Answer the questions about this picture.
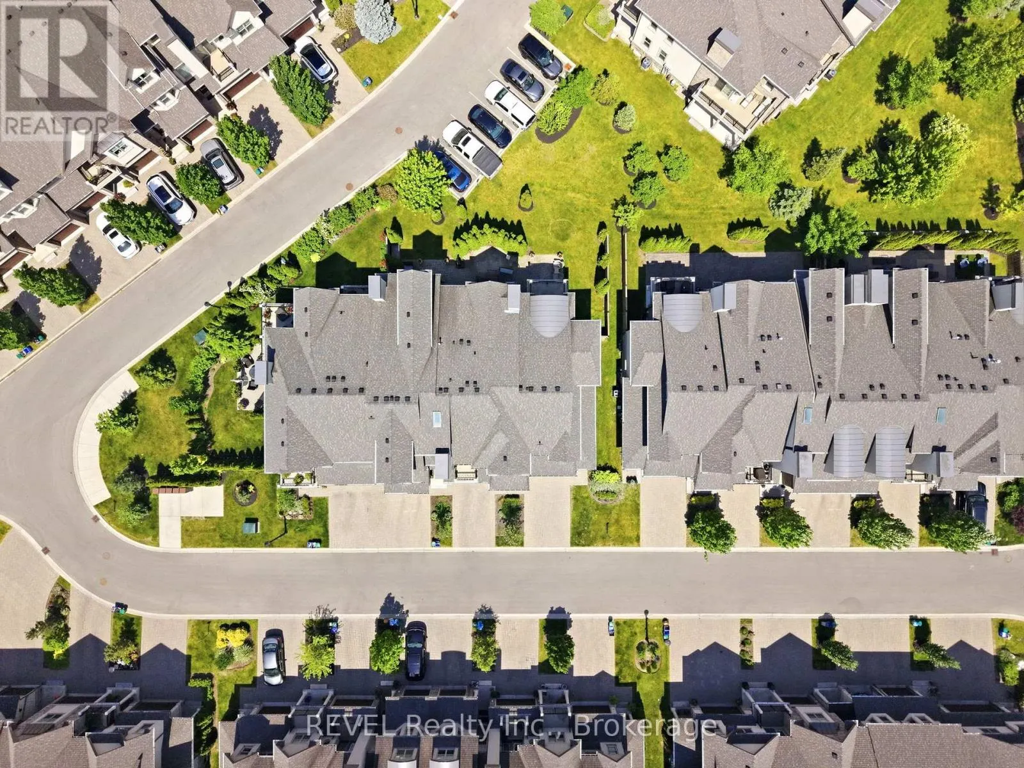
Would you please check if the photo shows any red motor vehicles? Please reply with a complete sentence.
No, no red motor vehicle is visible in the scene.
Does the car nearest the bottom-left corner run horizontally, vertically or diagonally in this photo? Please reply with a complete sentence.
The car nearest the bottom-left corner has been laid out vertically relative to the frame.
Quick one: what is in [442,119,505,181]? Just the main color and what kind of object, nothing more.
white truck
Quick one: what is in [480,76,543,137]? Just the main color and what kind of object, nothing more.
white truck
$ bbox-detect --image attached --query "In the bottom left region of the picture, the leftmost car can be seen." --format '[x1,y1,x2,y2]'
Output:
[260,633,286,683]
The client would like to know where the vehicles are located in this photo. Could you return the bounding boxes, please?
[294,35,340,88]
[515,31,566,82]
[442,119,505,181]
[464,101,515,151]
[404,625,429,679]
[97,216,143,263]
[427,147,477,196]
[498,56,547,106]
[146,173,195,227]
[480,76,543,137]
[199,138,246,191]
[260,633,286,683]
